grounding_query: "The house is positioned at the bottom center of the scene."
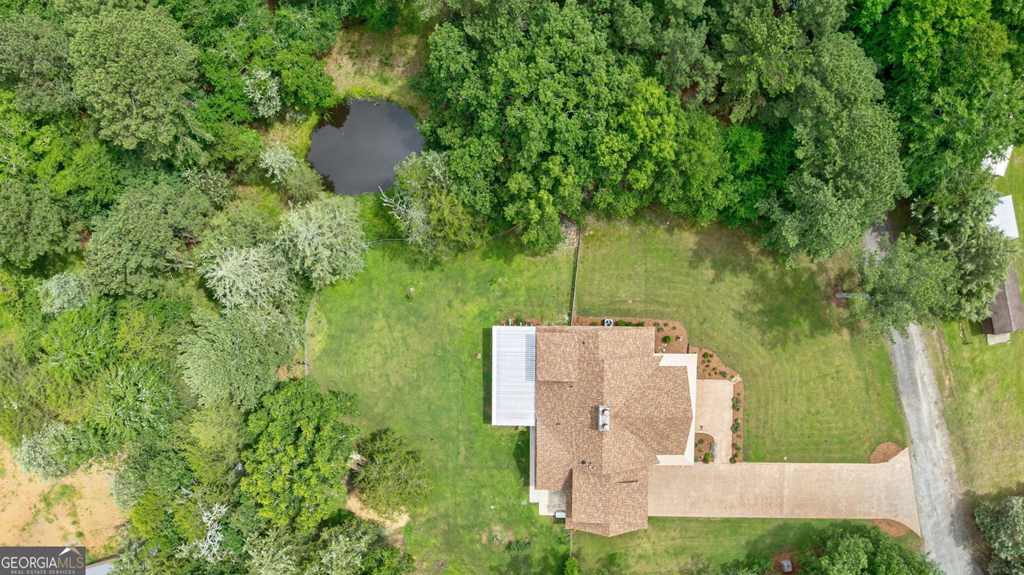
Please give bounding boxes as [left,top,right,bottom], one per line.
[492,319,697,537]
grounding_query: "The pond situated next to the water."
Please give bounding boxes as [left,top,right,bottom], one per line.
[297,94,428,197]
